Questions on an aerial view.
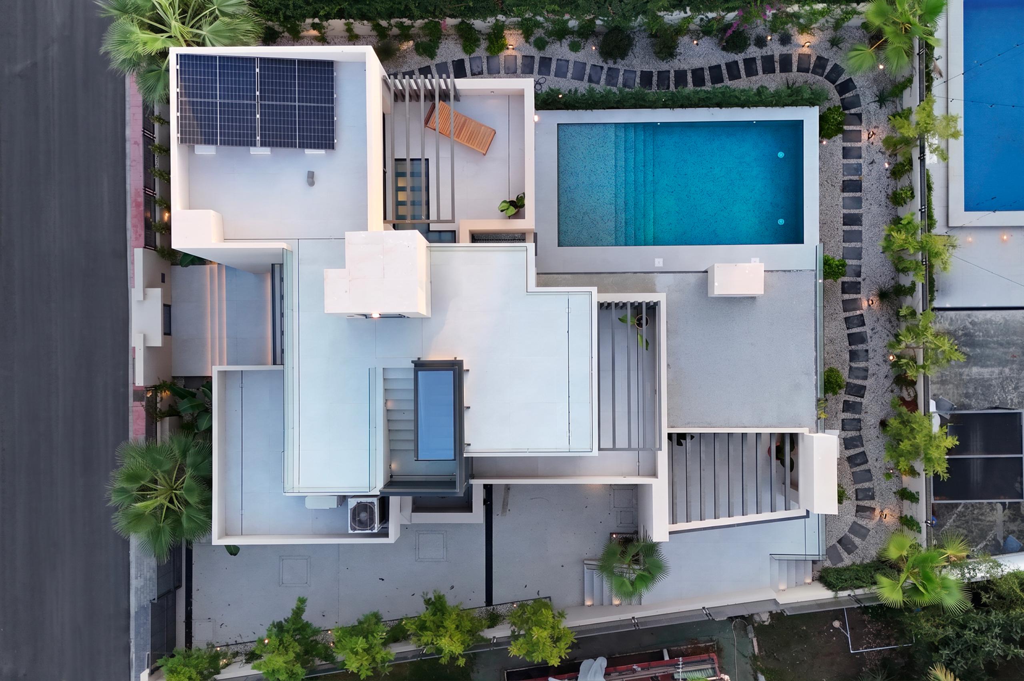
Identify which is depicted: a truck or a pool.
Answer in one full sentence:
This aerial view contains a pool.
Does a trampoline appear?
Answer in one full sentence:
No, I can't see a single trampoline in this photo.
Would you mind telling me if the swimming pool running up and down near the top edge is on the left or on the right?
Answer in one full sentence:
You can find the swimming pool running up and down near the top edge on the right side of the picture.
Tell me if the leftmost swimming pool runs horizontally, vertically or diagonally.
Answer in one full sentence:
Seen from above, the leftmost swimming pool lies horizontally.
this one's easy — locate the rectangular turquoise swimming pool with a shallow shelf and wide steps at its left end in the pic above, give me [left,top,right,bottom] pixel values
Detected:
[557,121,804,248]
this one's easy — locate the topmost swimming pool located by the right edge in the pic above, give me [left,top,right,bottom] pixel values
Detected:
[945,0,1024,228]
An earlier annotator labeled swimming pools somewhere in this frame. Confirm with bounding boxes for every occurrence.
[557,121,804,248]
[945,0,1024,228]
